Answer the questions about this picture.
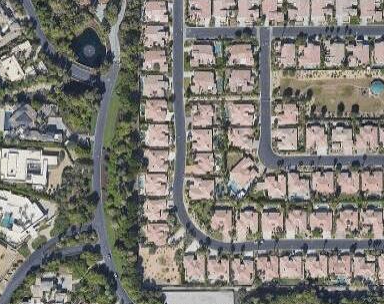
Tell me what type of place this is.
residential area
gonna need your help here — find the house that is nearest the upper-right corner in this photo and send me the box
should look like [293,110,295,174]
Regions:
[361,0,383,22]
